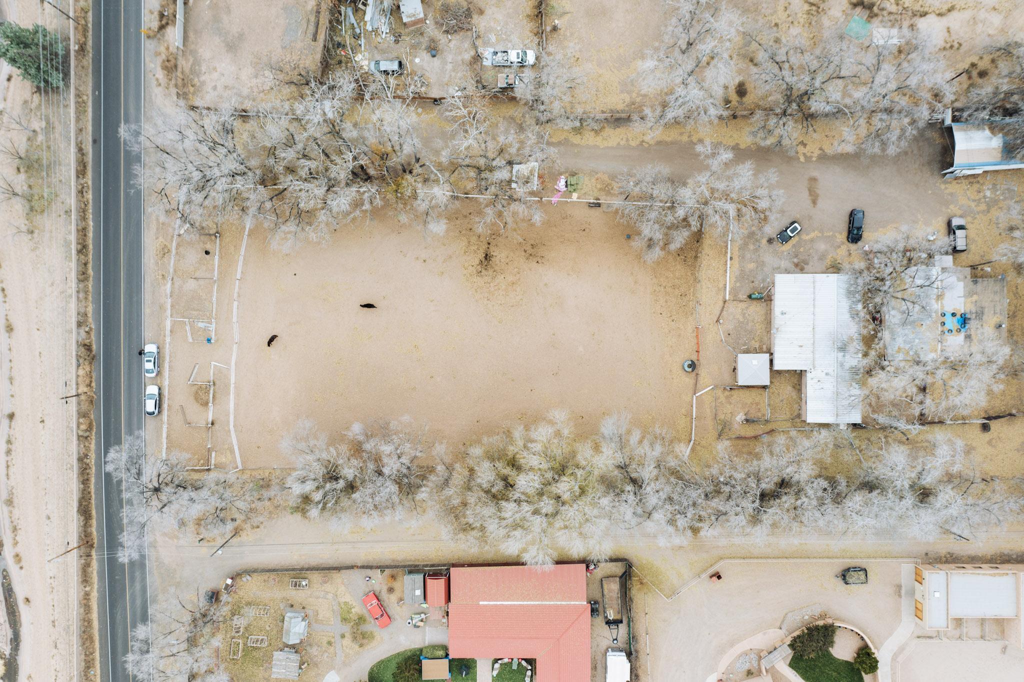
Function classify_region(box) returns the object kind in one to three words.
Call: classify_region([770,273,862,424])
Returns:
barn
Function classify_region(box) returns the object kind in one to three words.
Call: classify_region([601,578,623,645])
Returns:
trailer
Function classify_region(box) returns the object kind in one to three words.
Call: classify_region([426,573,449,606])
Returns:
shed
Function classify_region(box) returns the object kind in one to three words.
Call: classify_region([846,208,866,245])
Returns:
car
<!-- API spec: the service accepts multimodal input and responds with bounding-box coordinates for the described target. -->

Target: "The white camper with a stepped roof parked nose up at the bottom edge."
[605,645,630,682]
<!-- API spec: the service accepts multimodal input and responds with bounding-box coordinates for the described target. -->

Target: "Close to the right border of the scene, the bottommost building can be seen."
[914,564,1024,650]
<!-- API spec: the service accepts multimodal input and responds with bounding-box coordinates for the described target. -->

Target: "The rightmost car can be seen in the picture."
[946,216,968,253]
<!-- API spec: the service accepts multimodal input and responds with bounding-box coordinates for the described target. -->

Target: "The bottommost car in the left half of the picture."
[362,589,391,631]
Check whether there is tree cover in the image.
Yes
